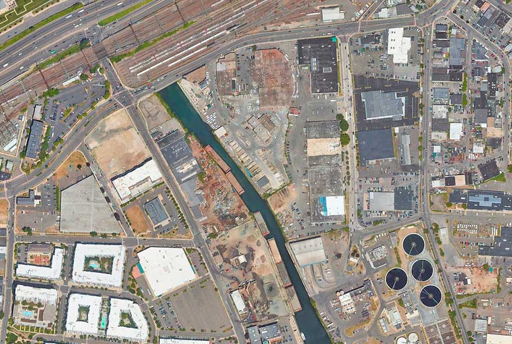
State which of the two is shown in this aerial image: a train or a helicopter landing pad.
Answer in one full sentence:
It is a train that can be seen here.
